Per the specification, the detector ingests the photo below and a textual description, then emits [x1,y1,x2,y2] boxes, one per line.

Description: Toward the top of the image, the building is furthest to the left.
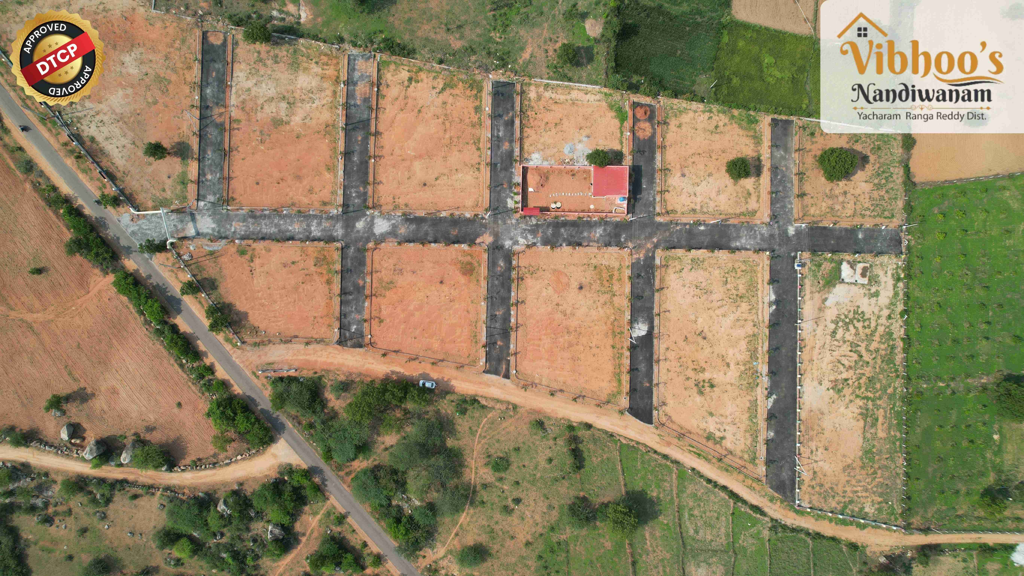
[592,165,629,198]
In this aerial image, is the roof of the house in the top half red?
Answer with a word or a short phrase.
Yes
